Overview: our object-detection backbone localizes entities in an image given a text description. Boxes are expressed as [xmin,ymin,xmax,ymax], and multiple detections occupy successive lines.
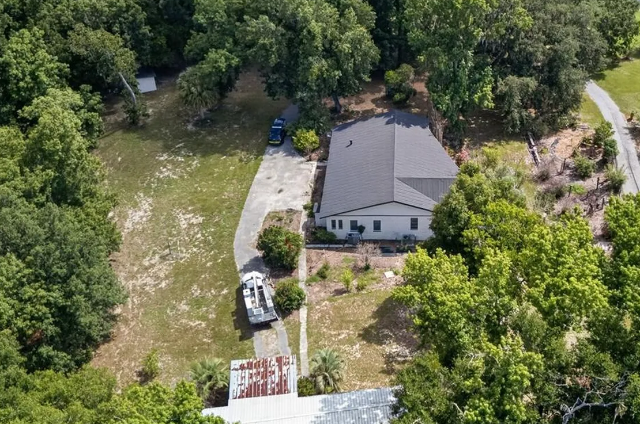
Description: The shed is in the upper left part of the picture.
[135,71,159,94]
